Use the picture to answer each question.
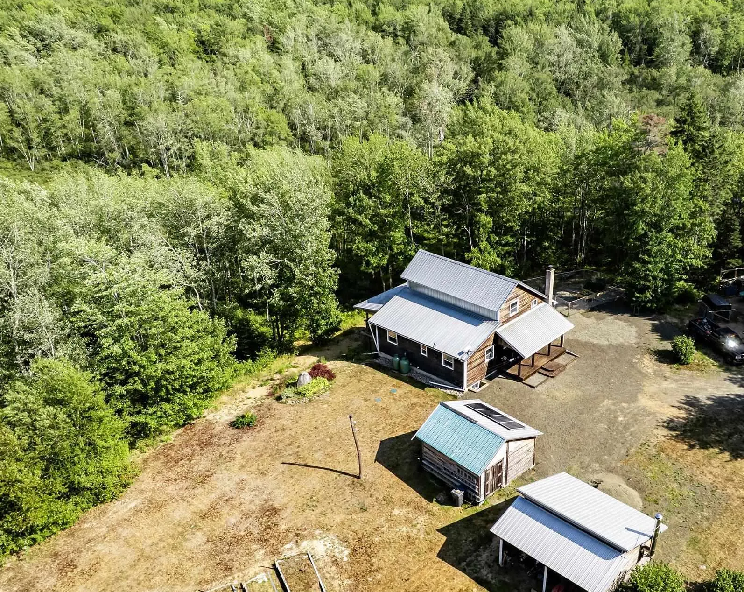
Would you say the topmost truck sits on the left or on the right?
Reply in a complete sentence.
You can find the topmost truck on the right side of the picture.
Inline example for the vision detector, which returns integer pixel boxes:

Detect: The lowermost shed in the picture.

[491,473,667,592]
